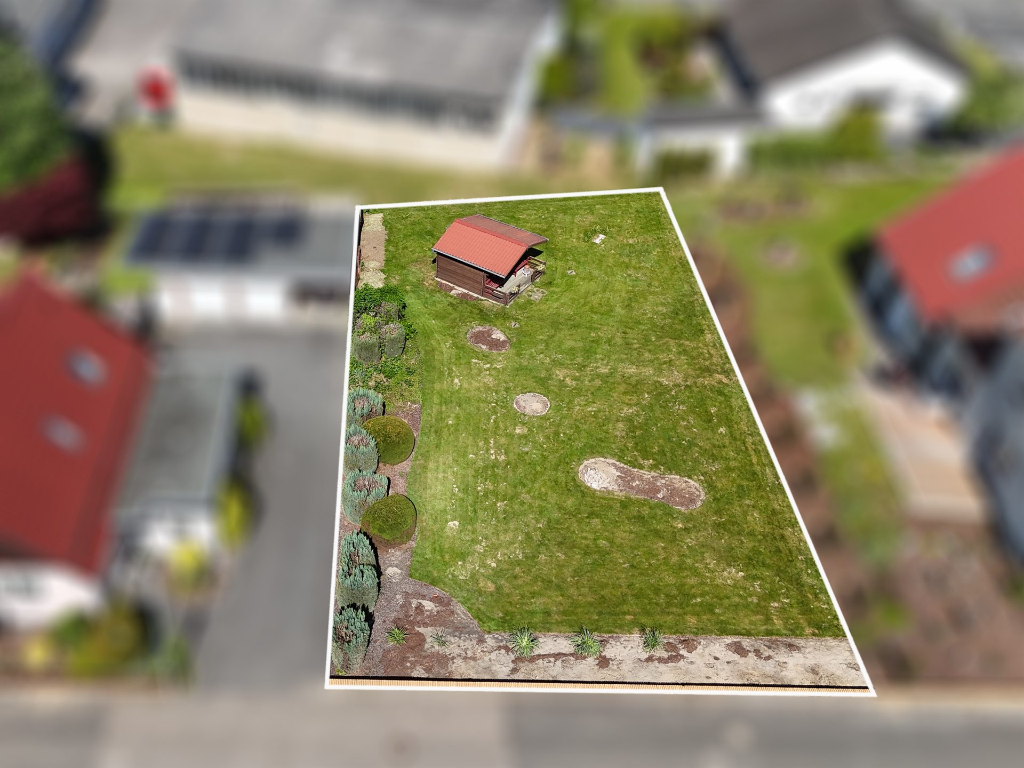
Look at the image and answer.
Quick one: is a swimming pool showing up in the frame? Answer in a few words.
No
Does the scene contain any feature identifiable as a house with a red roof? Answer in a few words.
Yes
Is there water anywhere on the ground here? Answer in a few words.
No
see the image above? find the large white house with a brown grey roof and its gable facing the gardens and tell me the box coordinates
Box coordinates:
[718,0,987,144]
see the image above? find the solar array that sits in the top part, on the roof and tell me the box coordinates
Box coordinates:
[136,213,298,259]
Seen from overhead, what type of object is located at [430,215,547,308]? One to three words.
building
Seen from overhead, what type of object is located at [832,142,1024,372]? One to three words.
house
